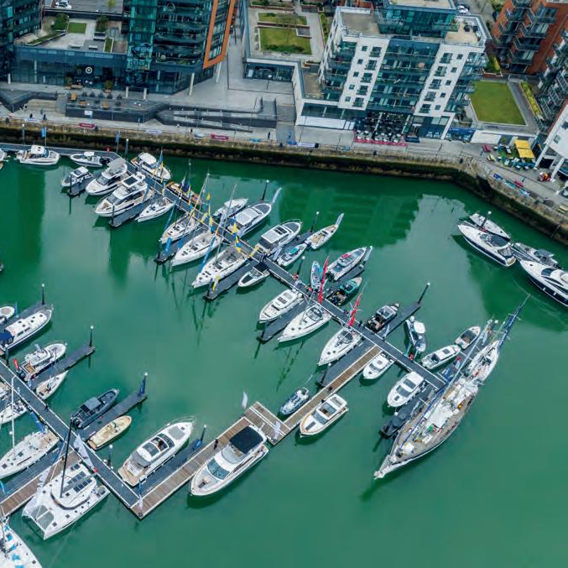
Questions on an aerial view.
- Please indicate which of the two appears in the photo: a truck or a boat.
boat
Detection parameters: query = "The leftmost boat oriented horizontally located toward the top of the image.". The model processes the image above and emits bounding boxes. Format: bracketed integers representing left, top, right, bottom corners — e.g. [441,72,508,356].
[16,148,59,166]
